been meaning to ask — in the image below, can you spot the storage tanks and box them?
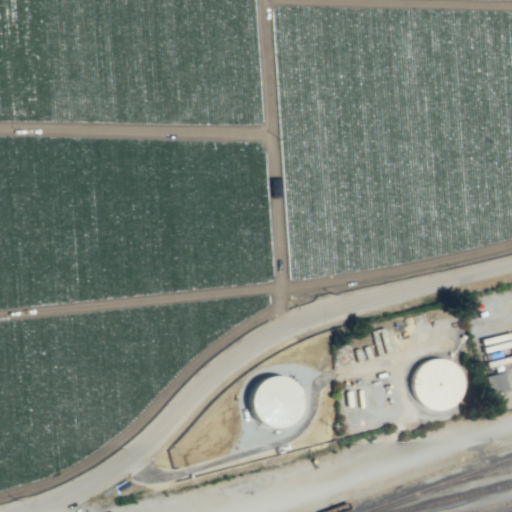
[250,376,306,431]
[409,357,468,416]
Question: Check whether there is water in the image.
No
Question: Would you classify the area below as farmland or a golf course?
farmland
